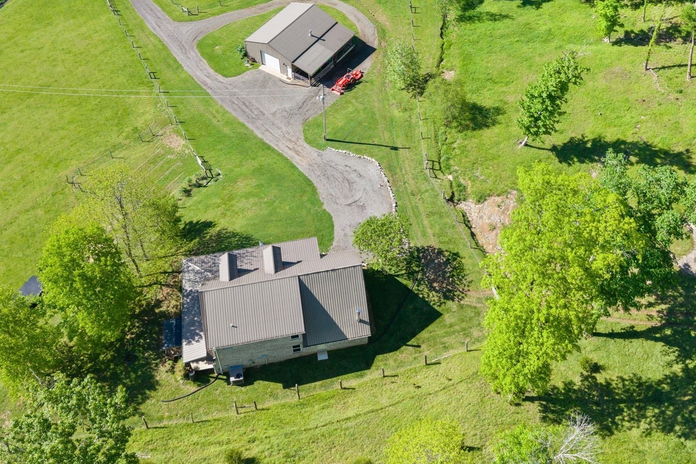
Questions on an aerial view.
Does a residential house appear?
Yes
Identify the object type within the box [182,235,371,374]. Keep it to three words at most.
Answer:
house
